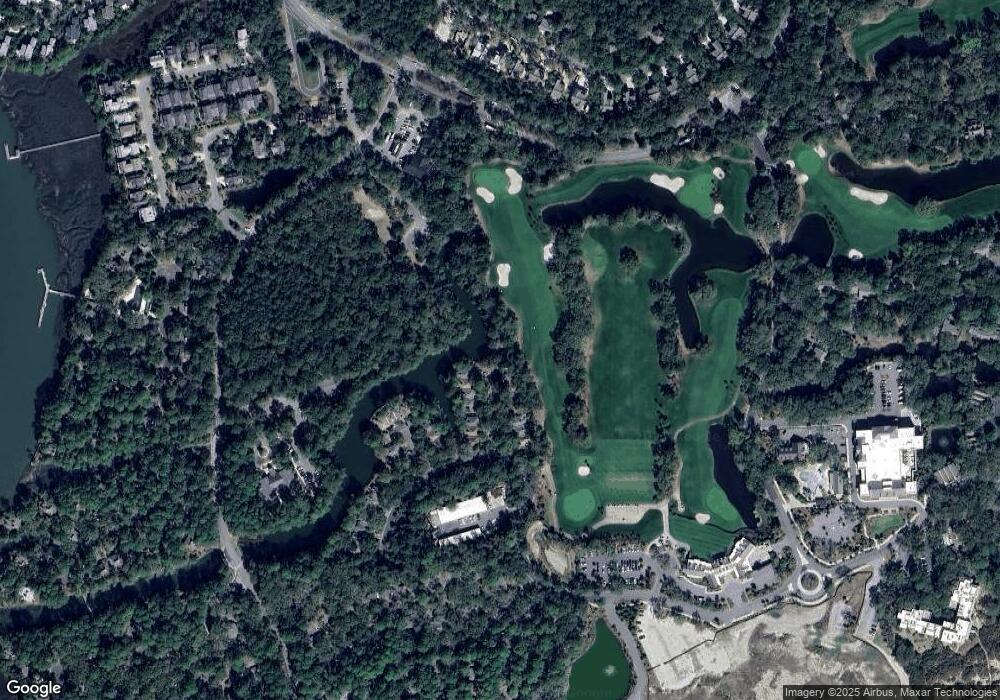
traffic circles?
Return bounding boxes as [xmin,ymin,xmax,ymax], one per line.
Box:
[788,550,832,602]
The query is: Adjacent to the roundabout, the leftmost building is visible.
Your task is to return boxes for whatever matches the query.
[683,537,771,585]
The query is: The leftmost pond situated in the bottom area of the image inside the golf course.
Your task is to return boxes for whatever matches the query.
[708,424,757,527]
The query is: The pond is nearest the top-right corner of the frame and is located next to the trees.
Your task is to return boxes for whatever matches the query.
[875,36,958,78]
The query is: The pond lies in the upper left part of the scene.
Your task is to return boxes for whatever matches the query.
[229,165,305,212]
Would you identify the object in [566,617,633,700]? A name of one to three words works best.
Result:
pond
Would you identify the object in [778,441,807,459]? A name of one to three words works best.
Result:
house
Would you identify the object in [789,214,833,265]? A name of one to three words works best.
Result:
pond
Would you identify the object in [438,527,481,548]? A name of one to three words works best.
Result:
building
